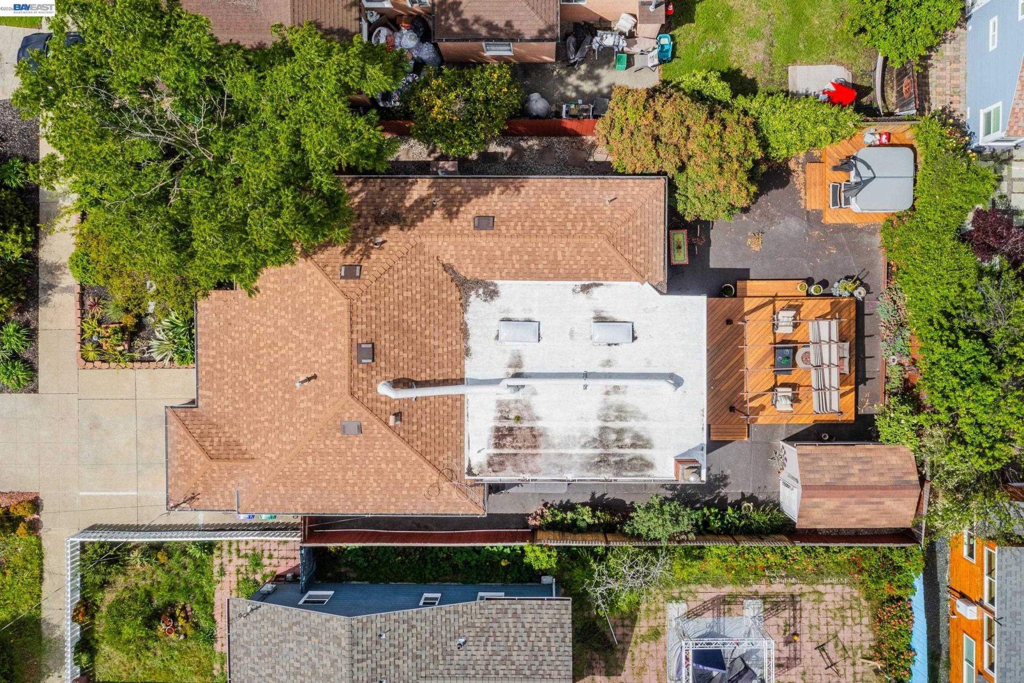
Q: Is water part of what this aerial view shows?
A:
No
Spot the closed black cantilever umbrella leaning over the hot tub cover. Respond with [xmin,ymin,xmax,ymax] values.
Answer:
[835,157,870,201]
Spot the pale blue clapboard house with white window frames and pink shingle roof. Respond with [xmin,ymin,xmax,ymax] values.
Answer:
[965,0,1024,147]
